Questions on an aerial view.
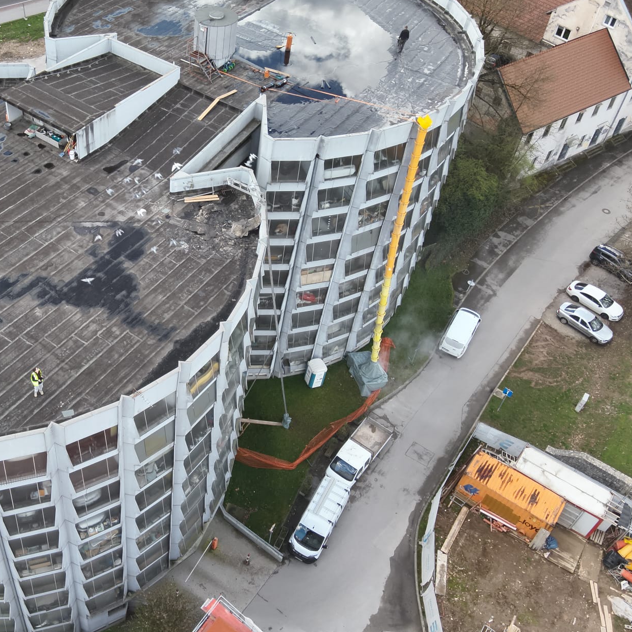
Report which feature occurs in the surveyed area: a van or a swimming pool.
van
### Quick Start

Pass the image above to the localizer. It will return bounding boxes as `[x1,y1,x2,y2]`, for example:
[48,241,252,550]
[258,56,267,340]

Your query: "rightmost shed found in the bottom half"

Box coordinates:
[514,449,613,537]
